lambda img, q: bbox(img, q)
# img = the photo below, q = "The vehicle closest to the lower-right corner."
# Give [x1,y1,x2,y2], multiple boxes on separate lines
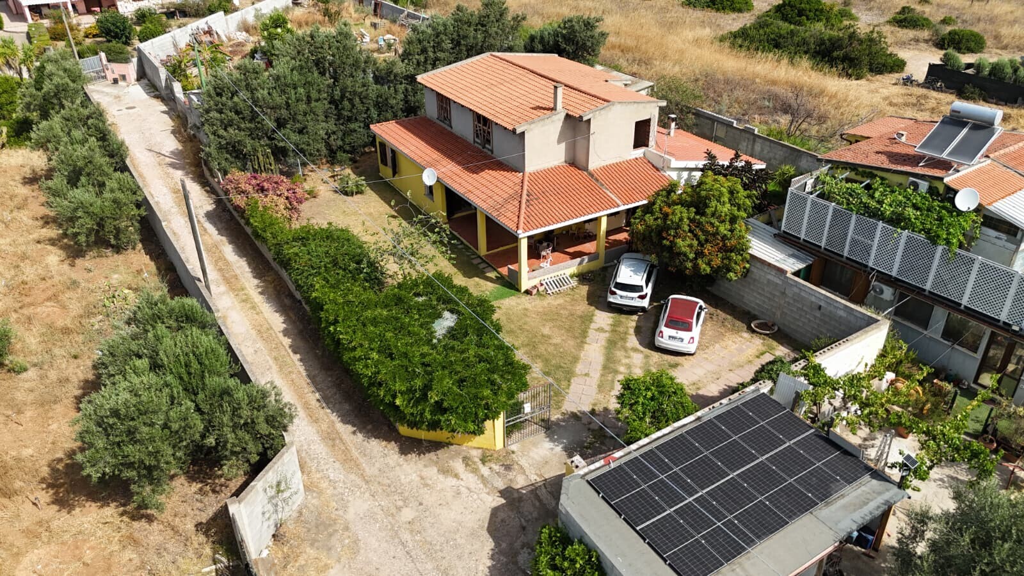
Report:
[654,292,710,351]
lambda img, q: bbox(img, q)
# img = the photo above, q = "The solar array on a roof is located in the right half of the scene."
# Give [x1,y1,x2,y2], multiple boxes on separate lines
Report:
[589,392,875,576]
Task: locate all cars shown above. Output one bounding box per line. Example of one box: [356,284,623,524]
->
[654,292,710,351]
[608,250,664,311]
